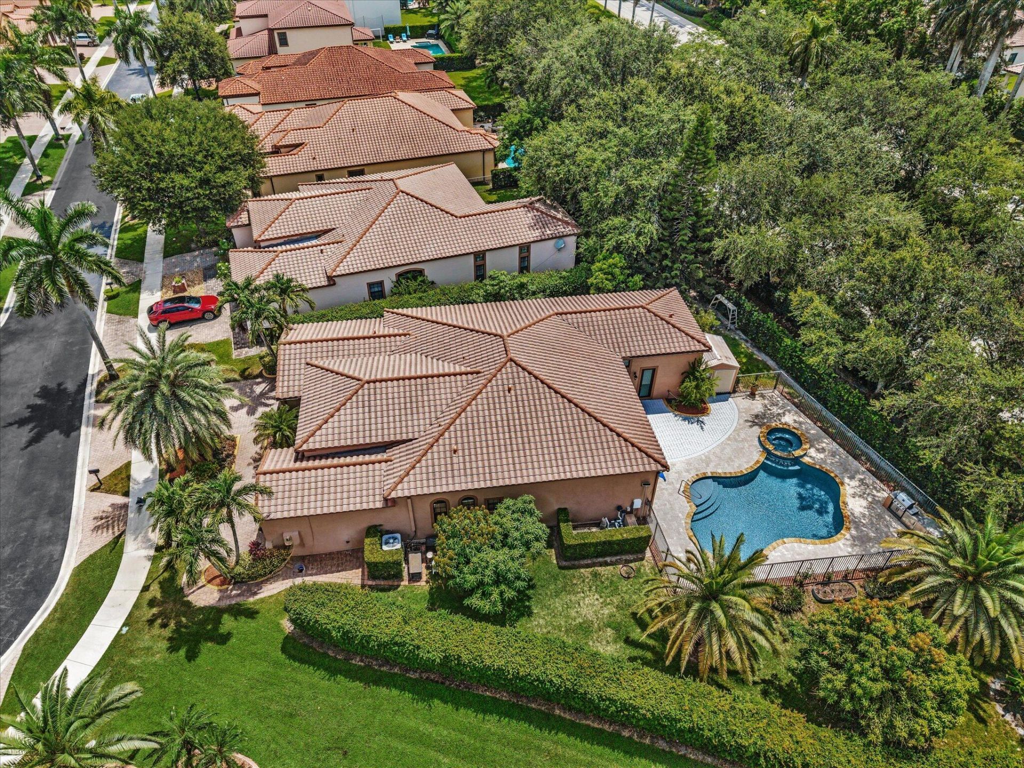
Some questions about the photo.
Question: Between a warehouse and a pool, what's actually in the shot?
pool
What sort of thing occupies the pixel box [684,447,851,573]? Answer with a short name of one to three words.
swimming pool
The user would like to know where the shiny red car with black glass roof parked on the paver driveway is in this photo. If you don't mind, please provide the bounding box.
[145,290,223,329]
